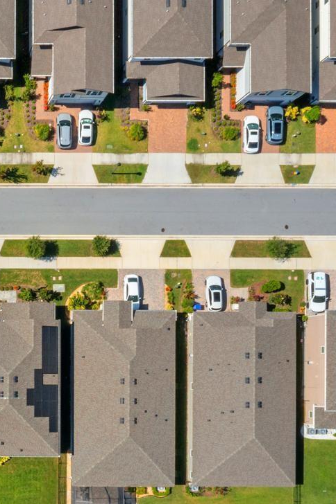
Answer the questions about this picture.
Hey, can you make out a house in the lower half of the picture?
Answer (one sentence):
Yes, I can see a house in the lower half of the picture.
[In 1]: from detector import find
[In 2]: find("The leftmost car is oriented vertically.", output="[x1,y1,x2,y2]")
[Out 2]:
[56,111,75,149]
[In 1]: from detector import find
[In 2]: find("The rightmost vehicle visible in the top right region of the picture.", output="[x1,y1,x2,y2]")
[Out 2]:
[264,107,285,145]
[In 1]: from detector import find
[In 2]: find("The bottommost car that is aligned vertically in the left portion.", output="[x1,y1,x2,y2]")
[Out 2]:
[122,274,141,310]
